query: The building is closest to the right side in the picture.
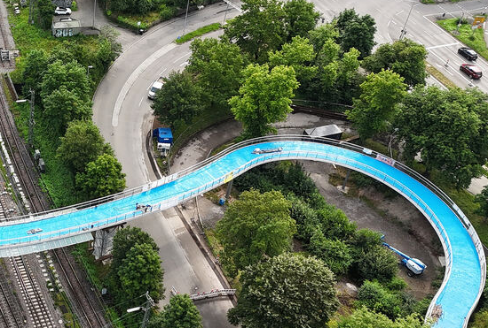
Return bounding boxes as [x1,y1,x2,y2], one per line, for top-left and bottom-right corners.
[53,16,87,37]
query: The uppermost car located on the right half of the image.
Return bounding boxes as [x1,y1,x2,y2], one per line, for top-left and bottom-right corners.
[455,44,481,60]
